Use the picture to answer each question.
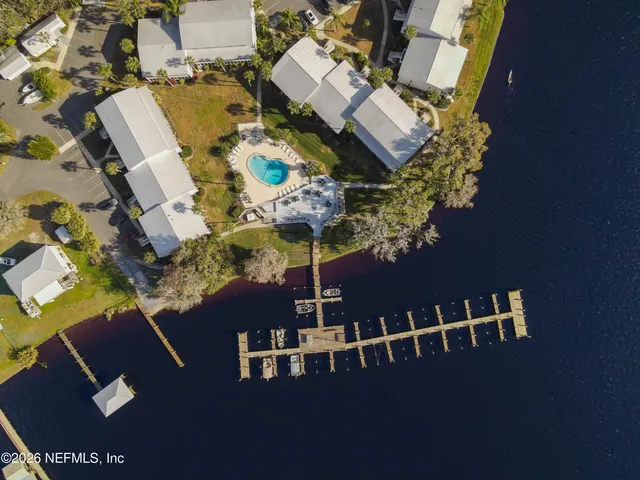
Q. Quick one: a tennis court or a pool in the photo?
pool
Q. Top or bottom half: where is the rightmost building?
top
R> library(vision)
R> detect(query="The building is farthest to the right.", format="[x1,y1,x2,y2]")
[386,0,472,96]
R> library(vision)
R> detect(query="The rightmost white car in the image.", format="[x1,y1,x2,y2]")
[305,6,319,26]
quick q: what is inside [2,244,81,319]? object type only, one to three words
house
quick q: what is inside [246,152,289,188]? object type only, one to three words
swimming pool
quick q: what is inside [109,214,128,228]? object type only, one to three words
vehicle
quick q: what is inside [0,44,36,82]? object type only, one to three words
building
